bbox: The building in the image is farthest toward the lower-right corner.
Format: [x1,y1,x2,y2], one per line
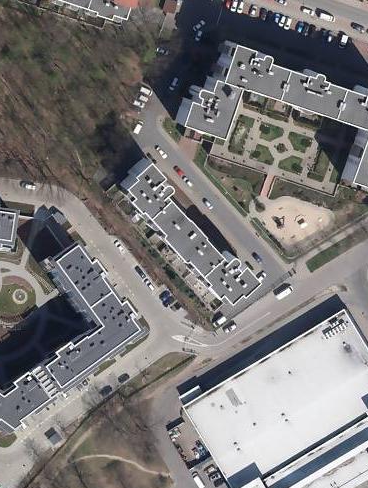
[179,310,368,488]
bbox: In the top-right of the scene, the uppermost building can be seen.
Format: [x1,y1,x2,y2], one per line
[176,42,368,187]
